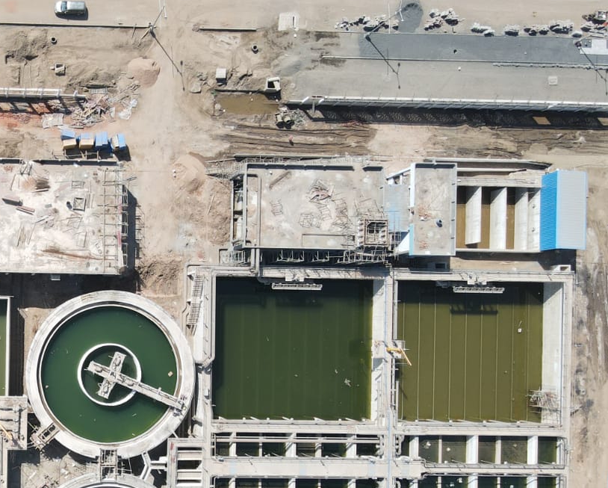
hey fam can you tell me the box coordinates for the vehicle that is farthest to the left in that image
[56,0,89,16]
